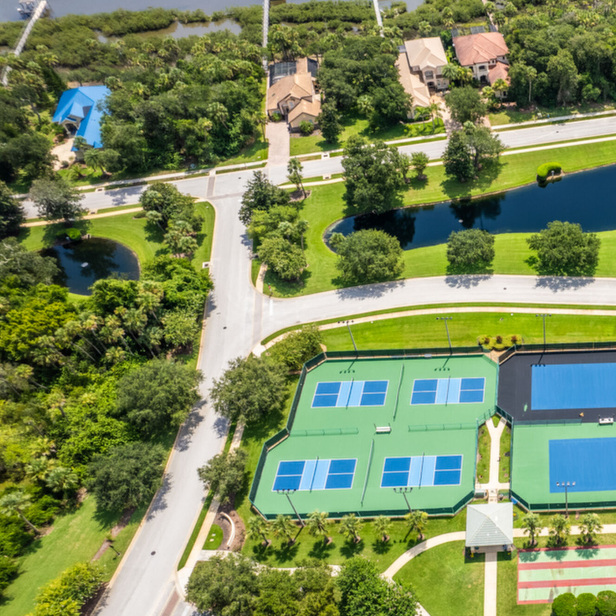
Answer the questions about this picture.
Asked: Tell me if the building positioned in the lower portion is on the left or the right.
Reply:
right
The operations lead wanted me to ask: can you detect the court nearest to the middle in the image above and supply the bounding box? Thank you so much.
[311,377,389,408]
